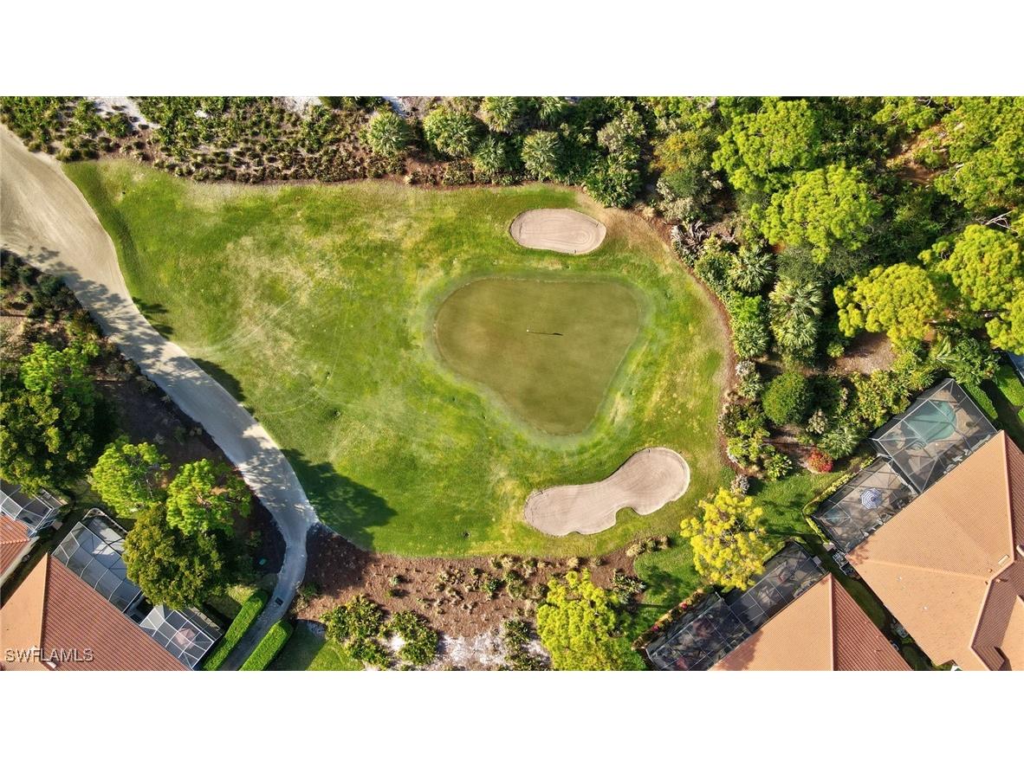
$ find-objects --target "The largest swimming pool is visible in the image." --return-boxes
[901,397,961,446]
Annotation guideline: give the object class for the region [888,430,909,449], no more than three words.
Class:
swimming pool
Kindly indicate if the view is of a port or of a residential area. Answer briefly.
residential area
